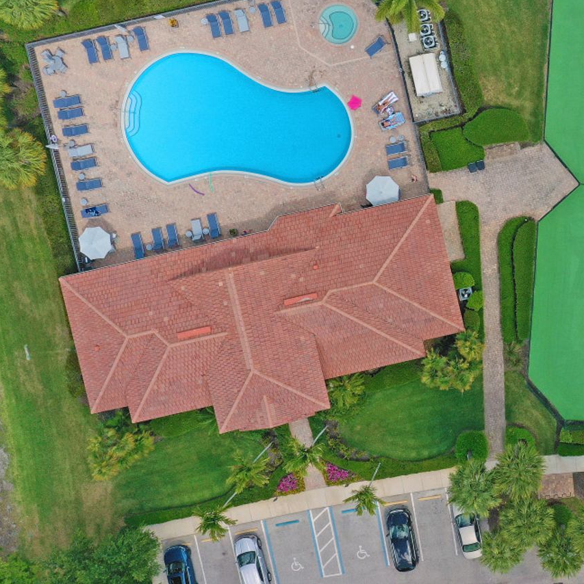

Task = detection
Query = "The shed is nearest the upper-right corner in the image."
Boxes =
[411,53,443,98]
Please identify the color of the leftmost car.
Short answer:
blue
